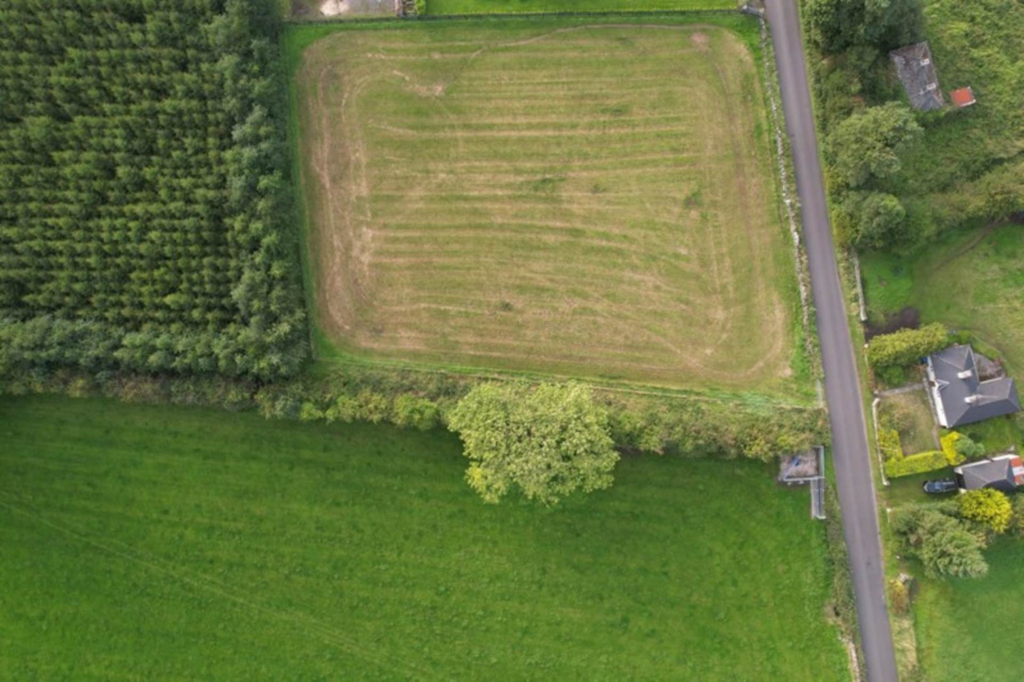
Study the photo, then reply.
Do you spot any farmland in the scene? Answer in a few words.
Yes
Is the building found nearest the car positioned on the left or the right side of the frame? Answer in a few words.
right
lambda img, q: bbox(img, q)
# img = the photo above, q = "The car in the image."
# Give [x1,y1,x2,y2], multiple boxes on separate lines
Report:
[920,477,958,496]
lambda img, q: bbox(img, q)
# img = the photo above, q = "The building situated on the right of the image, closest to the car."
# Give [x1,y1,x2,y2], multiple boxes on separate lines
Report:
[952,457,1016,490]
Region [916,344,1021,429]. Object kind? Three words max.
house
